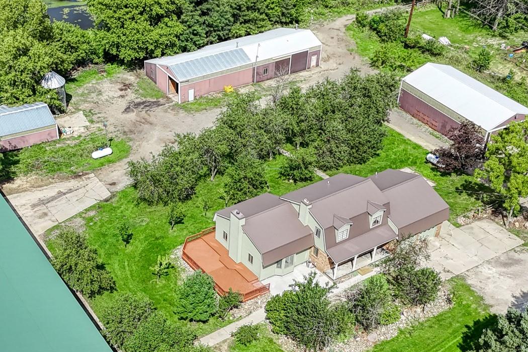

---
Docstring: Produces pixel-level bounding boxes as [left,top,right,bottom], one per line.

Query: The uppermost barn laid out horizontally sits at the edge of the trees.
[143,25,324,104]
